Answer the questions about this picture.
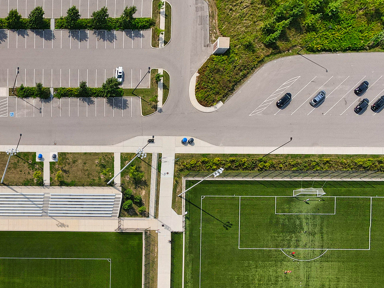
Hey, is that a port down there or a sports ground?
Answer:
sports ground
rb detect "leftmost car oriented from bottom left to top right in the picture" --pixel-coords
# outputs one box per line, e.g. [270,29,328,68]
[277,93,295,108]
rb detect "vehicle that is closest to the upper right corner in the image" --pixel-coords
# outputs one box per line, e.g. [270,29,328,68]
[355,80,372,95]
